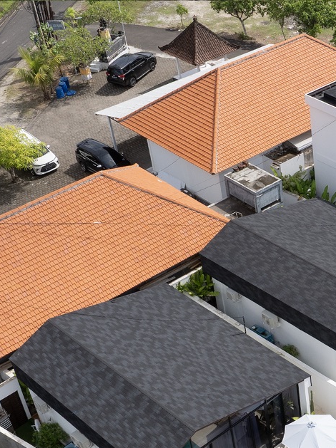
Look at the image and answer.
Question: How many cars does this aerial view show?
3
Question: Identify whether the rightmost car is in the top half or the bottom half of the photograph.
top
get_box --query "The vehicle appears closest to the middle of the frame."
[75,135,133,179]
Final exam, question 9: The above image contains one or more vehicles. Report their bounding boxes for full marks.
[75,135,133,179]
[11,127,59,177]
[105,51,156,86]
